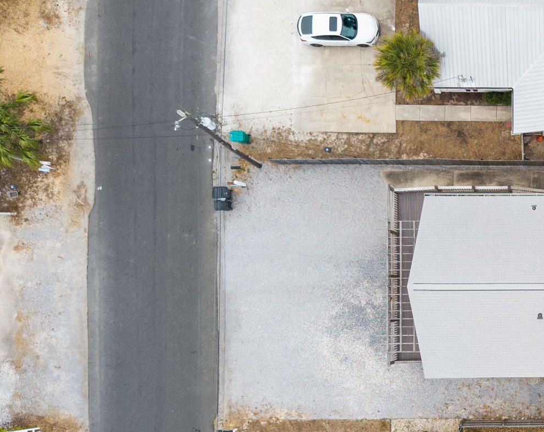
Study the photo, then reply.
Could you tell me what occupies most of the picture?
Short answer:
paved ground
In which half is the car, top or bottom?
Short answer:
top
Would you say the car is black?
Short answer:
No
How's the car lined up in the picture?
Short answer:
from left to right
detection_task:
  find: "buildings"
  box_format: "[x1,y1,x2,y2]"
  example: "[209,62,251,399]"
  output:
[407,190,544,378]
[417,0,544,136]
